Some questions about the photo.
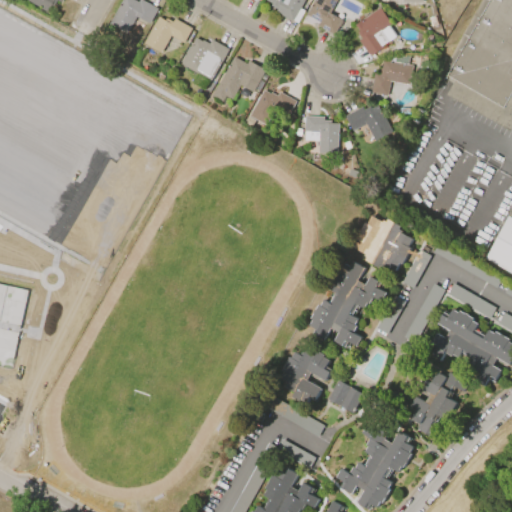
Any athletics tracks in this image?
Yes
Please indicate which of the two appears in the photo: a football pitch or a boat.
football pitch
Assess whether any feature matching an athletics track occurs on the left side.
Yes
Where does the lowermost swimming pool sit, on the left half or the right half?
right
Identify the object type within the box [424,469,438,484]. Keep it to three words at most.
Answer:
vehicle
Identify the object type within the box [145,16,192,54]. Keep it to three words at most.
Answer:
house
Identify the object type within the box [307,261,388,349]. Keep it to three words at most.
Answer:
building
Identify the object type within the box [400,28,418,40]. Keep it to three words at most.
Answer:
swimming pool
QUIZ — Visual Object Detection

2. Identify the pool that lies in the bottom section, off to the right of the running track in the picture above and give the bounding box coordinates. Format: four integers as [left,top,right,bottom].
[364,352,387,380]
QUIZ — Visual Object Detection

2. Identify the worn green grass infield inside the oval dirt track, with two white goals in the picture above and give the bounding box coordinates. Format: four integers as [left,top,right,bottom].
[61,165,302,488]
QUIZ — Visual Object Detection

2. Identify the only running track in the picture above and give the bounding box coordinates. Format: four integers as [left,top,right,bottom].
[42,152,314,500]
